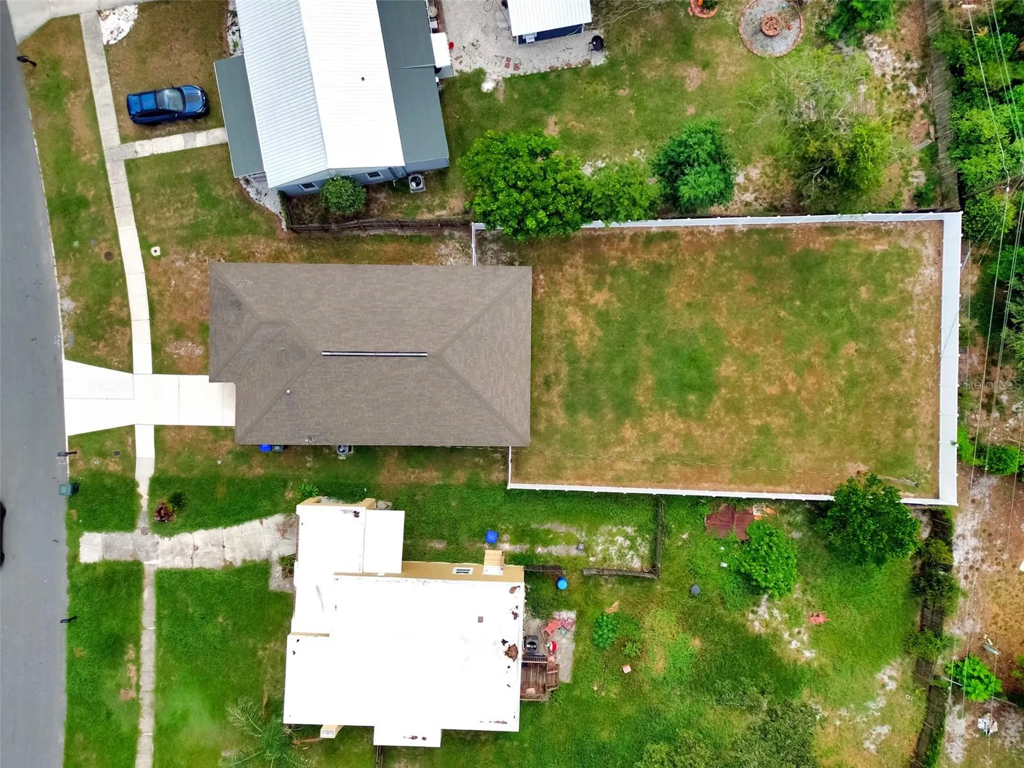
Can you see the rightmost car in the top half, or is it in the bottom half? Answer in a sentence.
The rightmost car sits in the top half of the picture.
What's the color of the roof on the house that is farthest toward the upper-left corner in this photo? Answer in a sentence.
From above, the roof of the house that is farthest toward the upper-left corner looks white.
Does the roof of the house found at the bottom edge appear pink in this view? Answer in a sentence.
No, the roof of the house found at the bottom edge is actually white.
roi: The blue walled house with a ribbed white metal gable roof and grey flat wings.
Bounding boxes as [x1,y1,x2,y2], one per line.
[214,0,451,195]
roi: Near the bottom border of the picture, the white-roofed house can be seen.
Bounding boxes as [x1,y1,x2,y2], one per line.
[283,504,525,748]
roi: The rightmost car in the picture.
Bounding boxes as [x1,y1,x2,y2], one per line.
[125,86,212,131]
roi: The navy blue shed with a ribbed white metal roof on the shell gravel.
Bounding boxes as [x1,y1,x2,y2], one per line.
[506,0,592,50]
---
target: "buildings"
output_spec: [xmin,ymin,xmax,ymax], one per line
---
[283,504,525,748]
[506,0,592,50]
[208,261,533,448]
[214,0,451,195]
